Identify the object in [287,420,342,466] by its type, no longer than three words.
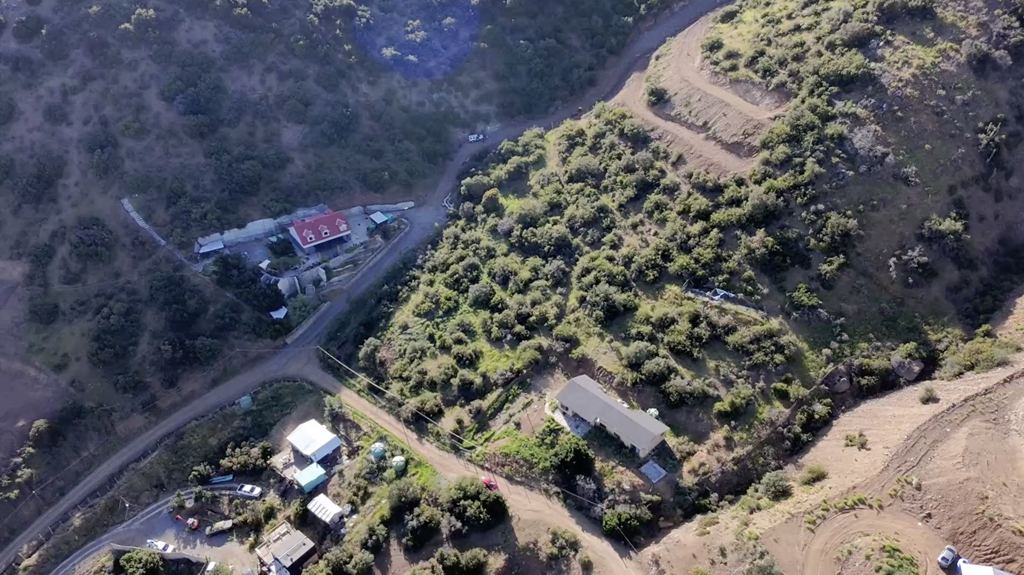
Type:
house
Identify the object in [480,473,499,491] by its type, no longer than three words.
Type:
car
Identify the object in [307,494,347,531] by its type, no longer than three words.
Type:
shed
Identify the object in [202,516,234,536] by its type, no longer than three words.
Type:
vehicle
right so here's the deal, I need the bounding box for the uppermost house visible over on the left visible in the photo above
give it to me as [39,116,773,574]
[284,206,353,256]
